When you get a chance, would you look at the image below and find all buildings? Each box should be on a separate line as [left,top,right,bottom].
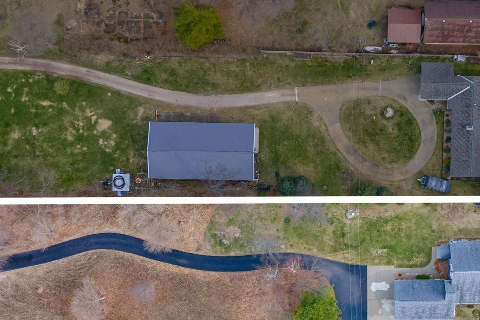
[419,62,480,176]
[423,2,480,47]
[146,121,256,182]
[387,9,421,46]
[394,240,480,320]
